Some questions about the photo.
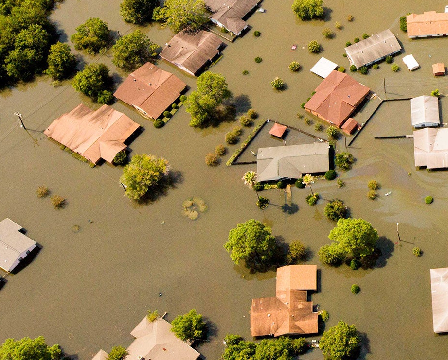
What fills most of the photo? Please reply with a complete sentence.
The bulk of the photo consists of water.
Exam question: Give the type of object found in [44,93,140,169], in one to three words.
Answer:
house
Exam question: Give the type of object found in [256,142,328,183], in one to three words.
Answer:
house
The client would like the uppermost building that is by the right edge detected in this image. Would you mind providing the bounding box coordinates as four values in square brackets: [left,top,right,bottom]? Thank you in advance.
[407,11,448,39]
